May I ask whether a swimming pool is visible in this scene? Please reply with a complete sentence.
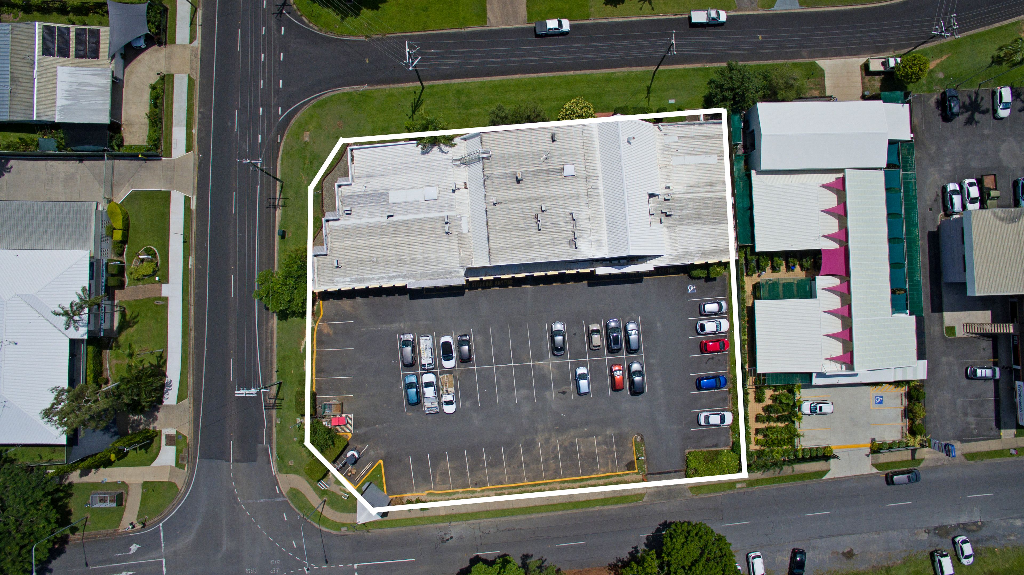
No, the frame has no swimming pool in it.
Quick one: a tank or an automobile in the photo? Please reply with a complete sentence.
This aerial view contains an automobile.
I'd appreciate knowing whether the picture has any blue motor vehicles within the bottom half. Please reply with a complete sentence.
Yes, within the bottom half there is a blue motor vehicle.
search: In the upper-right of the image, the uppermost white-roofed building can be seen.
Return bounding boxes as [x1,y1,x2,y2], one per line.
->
[747,101,911,173]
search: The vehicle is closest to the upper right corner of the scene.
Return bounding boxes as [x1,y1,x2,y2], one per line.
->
[991,87,1011,120]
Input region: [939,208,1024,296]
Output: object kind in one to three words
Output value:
building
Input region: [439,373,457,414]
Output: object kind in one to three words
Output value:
vehicle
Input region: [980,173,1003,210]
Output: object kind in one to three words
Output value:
truck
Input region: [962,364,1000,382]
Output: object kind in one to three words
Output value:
car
